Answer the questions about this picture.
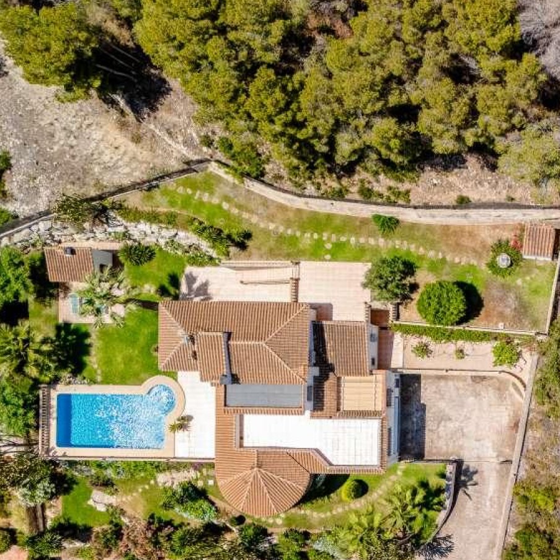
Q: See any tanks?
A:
No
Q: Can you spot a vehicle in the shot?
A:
No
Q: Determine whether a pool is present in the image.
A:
Yes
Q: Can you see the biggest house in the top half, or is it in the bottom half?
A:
bottom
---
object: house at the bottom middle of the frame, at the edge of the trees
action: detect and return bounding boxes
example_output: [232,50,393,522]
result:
[157,301,399,517]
